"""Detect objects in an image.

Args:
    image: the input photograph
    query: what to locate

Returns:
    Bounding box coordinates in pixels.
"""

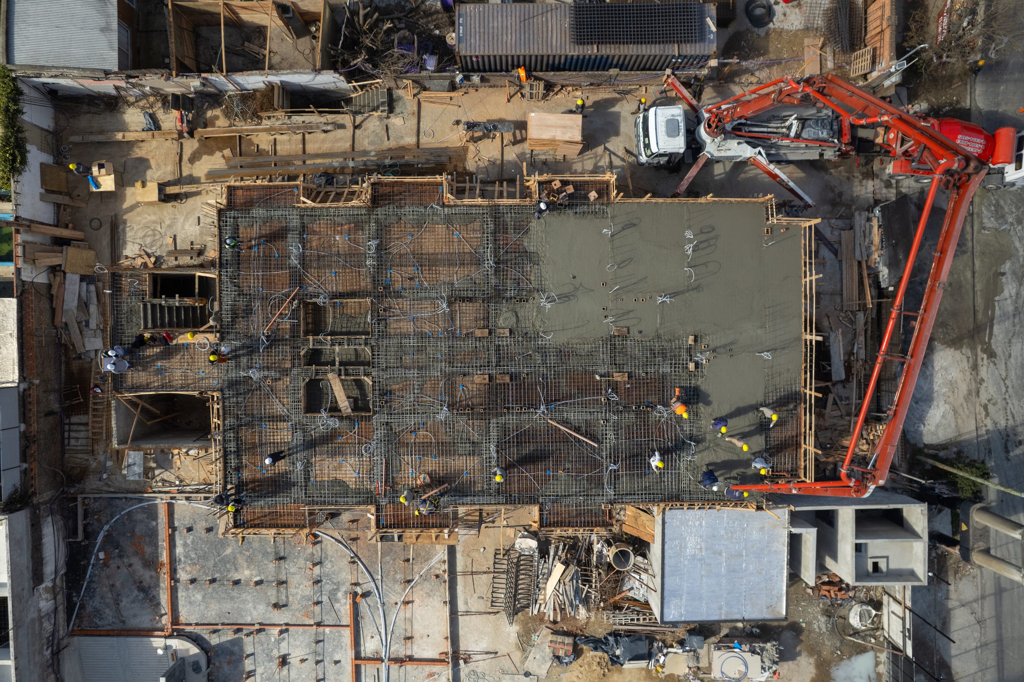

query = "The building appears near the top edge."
[0,0,151,98]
